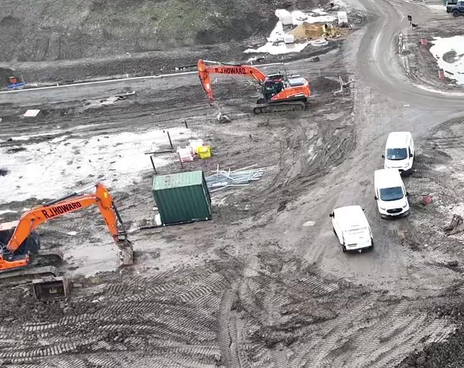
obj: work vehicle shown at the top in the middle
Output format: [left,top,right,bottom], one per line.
[194,55,317,118]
